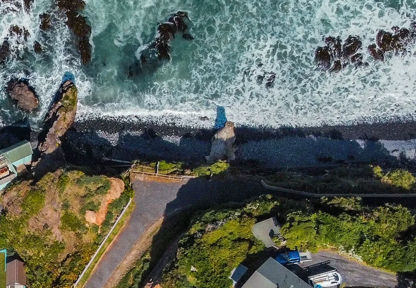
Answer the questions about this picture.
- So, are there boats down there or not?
No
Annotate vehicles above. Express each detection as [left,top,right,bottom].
[273,250,313,265]
[305,270,341,288]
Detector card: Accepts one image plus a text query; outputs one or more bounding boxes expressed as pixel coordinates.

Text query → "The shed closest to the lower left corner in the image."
[5,259,26,288]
